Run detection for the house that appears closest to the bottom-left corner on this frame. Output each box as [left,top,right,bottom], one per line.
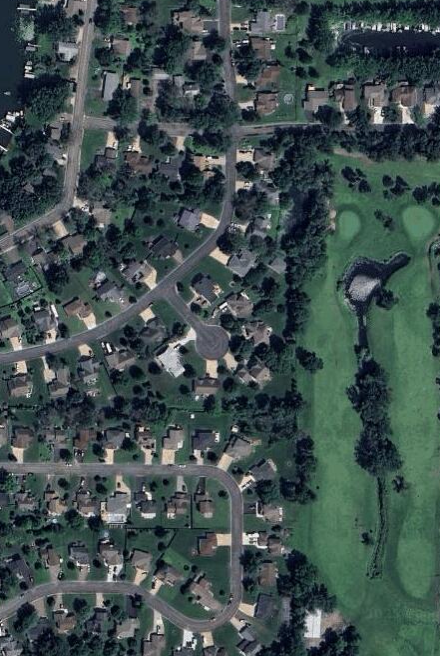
[0,639,26,656]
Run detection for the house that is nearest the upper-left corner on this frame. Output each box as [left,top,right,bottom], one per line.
[57,39,78,64]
